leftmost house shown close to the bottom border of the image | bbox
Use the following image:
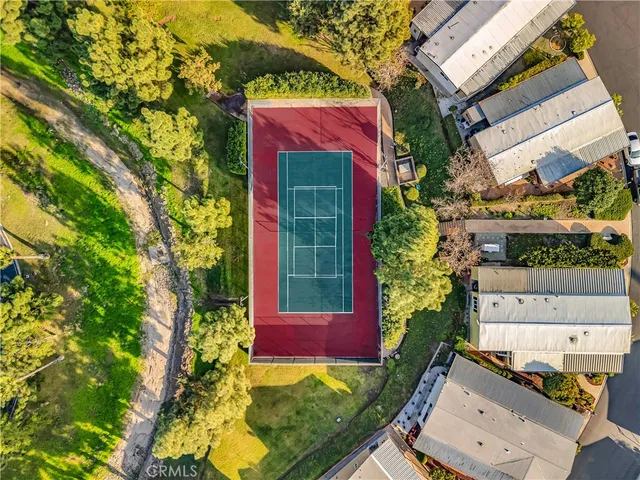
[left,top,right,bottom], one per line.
[346,429,423,480]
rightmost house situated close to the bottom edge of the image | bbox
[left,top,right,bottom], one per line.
[410,351,585,480]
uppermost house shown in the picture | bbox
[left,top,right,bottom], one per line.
[409,0,578,106]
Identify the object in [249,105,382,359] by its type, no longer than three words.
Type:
tennis court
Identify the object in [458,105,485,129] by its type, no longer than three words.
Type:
shed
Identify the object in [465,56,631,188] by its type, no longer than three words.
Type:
house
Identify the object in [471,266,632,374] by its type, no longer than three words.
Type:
house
